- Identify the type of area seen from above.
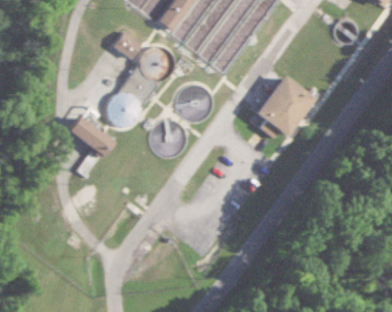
industrial area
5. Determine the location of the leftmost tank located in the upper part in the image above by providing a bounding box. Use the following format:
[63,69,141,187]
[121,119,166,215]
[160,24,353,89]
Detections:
[106,92,142,128]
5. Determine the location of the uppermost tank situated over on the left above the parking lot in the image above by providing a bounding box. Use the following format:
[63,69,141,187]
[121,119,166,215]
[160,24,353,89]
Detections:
[138,46,172,82]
